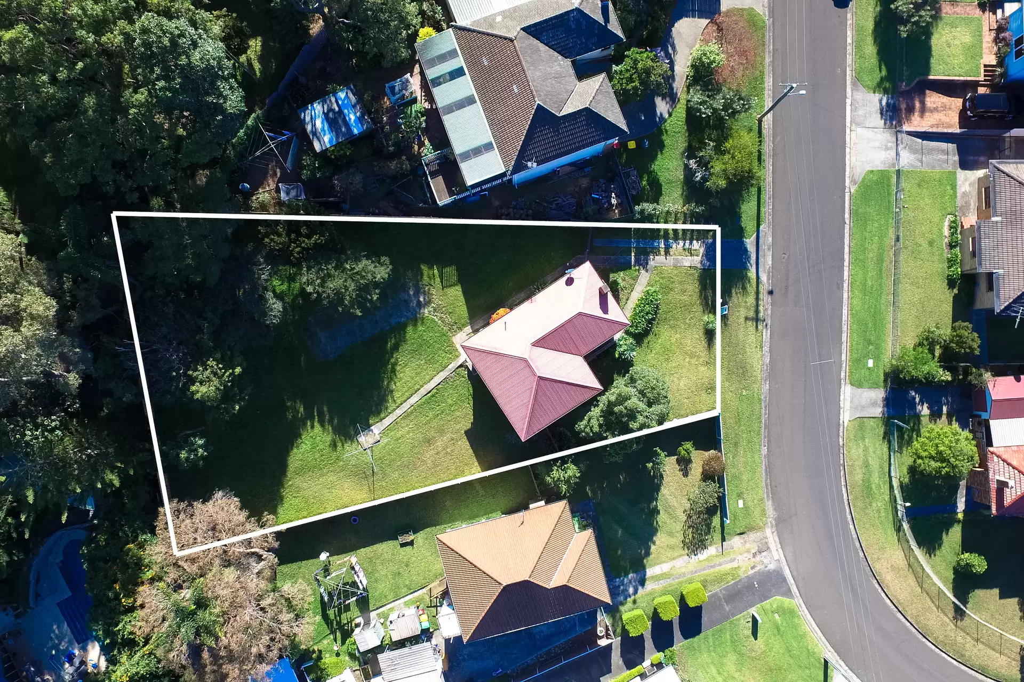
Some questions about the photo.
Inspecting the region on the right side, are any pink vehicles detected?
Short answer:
No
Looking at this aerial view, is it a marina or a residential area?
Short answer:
residential area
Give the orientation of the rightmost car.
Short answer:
from left to right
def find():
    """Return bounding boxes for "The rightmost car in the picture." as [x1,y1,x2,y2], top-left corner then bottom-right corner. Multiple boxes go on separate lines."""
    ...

[963,92,1017,118]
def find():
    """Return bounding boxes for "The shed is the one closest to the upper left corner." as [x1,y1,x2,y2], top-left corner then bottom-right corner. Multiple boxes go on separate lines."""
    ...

[298,85,373,155]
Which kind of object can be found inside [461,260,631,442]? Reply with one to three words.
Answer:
house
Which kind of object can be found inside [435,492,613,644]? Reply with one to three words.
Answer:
house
